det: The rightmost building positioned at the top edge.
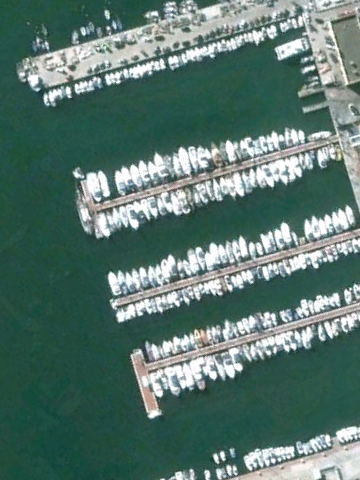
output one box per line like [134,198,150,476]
[329,15,360,87]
